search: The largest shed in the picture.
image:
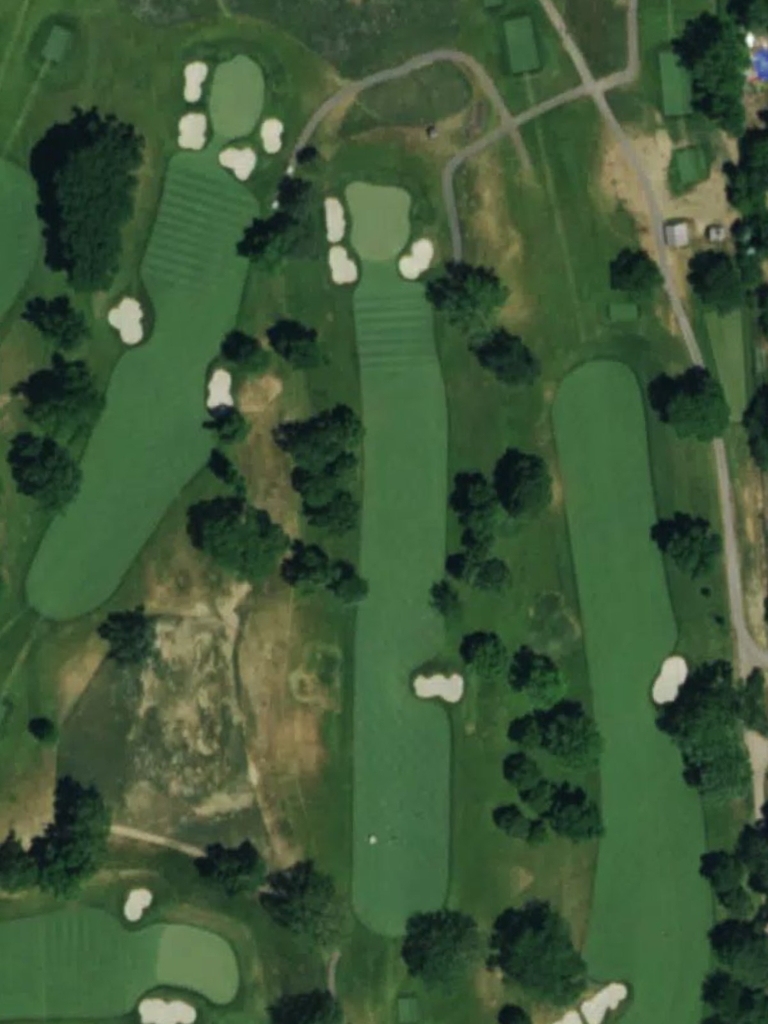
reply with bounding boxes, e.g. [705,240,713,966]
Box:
[664,223,689,248]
